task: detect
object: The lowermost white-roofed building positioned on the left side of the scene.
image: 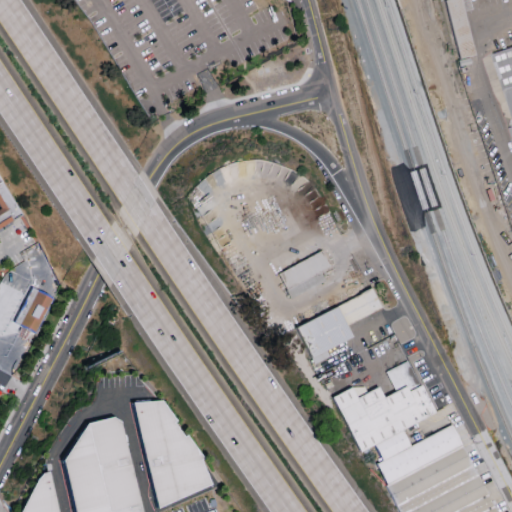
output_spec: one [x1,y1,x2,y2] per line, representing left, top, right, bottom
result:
[23,472,60,512]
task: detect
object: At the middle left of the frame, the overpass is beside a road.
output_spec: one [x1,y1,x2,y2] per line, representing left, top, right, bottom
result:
[90,167,166,287]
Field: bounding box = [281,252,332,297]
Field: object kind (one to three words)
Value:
shed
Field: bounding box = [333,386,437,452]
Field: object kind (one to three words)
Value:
building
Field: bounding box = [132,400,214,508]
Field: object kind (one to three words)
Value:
building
